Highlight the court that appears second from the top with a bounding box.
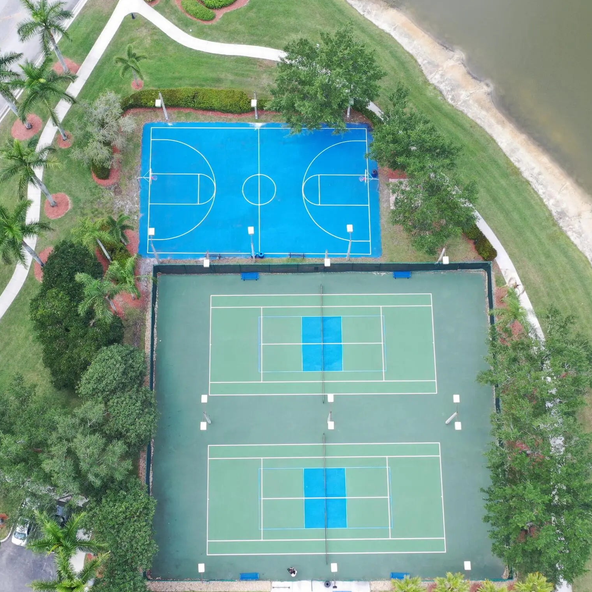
[153,271,495,420]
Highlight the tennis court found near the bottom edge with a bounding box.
[149,418,511,579]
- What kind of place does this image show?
sports ground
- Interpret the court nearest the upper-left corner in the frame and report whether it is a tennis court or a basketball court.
basketball court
